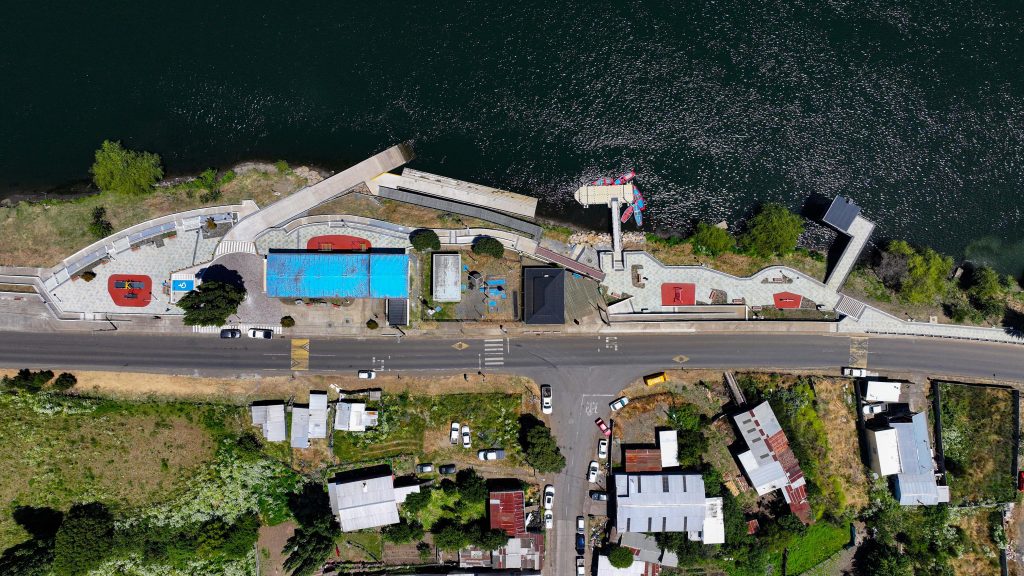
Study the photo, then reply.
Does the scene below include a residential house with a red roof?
Yes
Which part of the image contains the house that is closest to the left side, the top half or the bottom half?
bottom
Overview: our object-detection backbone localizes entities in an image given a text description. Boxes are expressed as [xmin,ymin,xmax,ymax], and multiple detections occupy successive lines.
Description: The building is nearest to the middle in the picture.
[525,268,565,324]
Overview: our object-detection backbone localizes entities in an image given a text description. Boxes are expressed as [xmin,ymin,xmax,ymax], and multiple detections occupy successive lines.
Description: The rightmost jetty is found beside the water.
[824,215,875,293]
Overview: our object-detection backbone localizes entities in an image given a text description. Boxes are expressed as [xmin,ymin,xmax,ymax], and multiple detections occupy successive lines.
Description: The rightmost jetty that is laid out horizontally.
[575,182,634,208]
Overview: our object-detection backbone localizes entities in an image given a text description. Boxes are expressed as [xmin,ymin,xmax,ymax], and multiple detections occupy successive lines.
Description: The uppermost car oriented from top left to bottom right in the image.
[595,417,612,438]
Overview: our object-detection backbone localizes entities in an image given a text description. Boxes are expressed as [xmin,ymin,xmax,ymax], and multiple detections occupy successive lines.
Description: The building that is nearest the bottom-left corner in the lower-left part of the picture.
[251,404,289,441]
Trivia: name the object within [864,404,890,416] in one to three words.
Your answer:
vehicle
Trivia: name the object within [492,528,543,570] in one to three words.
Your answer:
shed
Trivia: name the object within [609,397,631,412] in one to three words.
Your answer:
car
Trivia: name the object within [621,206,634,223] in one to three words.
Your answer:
boat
